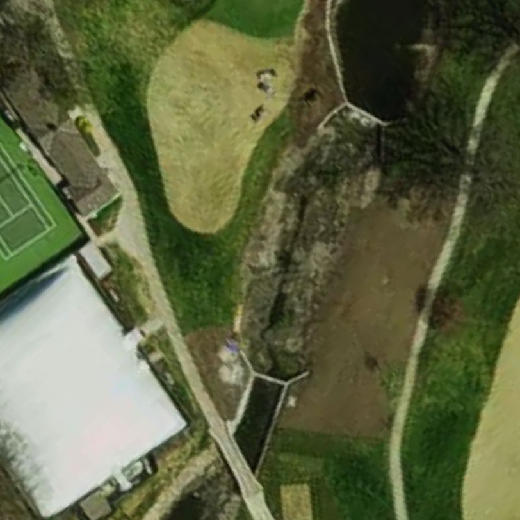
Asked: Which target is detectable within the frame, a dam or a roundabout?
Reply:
dam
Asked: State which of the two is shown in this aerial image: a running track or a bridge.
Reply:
bridge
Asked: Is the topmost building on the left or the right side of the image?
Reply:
left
